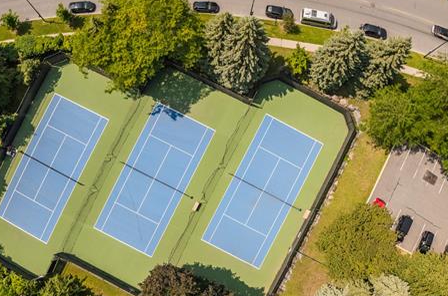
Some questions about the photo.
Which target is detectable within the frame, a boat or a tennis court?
tennis court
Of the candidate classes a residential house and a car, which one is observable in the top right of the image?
car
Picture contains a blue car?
No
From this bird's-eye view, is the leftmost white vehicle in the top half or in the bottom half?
top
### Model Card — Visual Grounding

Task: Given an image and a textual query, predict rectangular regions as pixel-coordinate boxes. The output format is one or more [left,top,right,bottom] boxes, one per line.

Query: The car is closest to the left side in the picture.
[68,0,97,14]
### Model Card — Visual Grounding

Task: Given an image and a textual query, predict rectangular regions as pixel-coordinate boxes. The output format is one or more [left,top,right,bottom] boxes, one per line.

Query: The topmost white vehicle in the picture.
[297,6,335,29]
